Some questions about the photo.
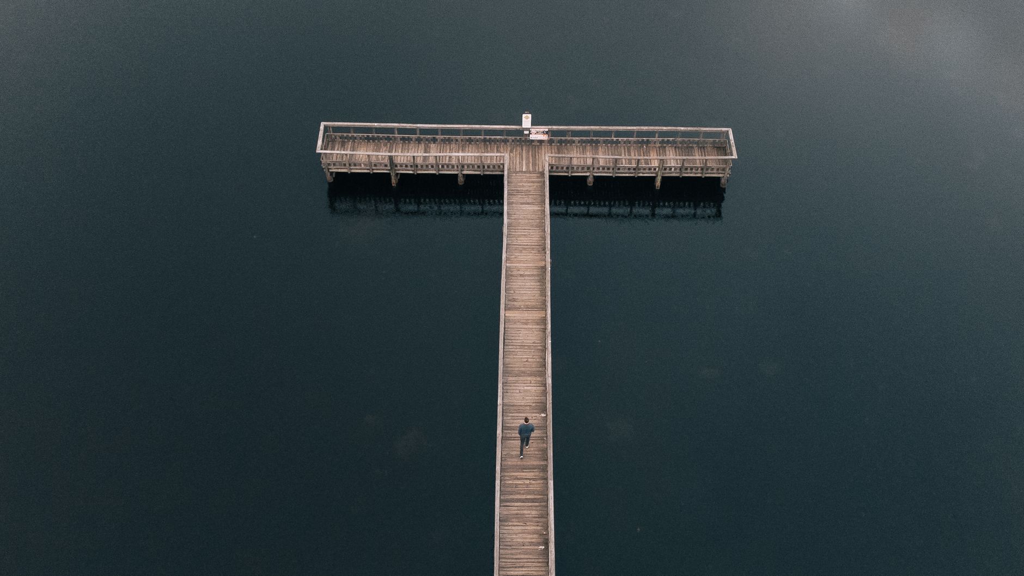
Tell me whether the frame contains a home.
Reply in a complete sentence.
No, this view has no home in it.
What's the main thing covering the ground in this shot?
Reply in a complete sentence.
What you mostly see from above here is water.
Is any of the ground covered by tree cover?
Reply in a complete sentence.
No, tree cover can't be seen anywhere here.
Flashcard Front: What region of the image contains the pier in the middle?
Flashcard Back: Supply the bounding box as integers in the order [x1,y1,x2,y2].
[316,122,737,576]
